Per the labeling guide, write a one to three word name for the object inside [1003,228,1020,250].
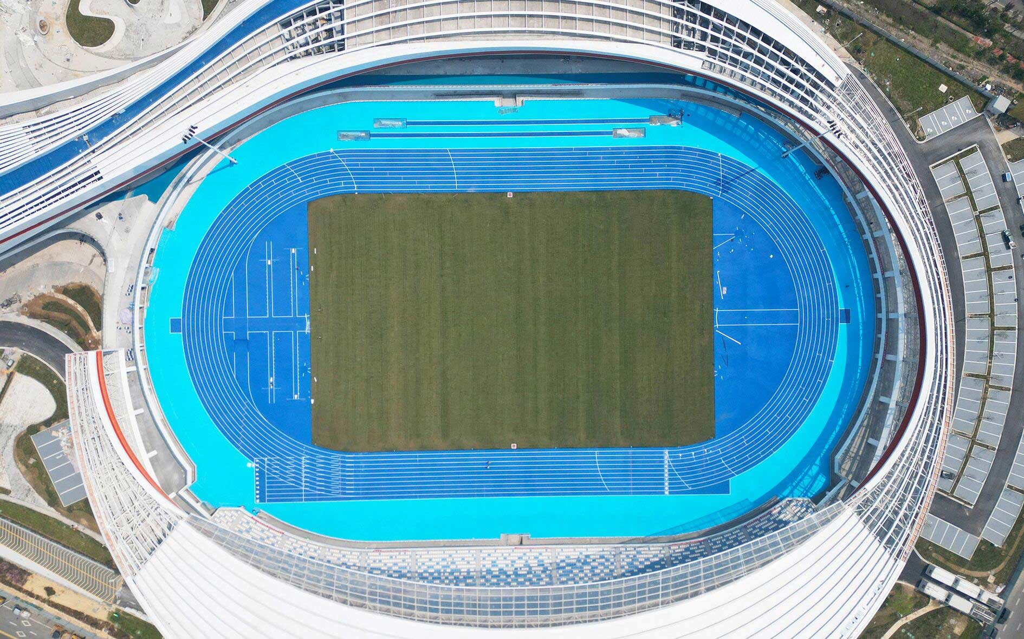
vehicle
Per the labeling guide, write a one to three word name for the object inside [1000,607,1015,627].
car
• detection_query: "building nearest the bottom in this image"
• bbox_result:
[986,95,1011,116]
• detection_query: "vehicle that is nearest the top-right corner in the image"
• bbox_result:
[1002,168,1015,184]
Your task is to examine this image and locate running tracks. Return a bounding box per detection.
[170,145,851,504]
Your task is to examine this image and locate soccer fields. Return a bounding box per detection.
[306,188,716,453]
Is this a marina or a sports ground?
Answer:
sports ground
